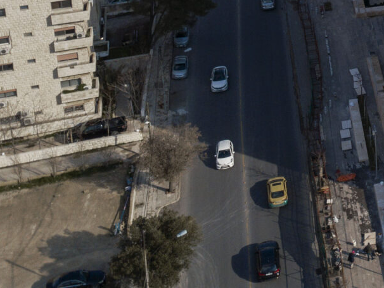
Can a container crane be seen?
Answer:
No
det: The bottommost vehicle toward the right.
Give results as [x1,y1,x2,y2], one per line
[252,236,281,281]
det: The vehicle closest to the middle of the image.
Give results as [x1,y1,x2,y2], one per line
[212,131,237,168]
